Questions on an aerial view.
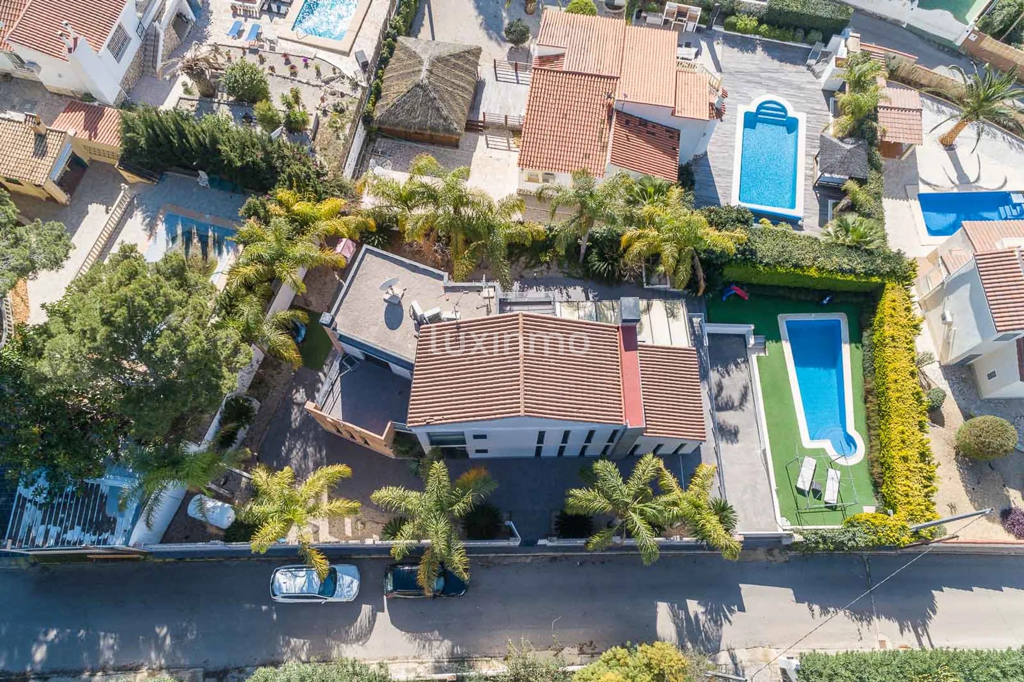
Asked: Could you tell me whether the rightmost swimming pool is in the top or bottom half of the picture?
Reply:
top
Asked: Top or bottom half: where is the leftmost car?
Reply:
bottom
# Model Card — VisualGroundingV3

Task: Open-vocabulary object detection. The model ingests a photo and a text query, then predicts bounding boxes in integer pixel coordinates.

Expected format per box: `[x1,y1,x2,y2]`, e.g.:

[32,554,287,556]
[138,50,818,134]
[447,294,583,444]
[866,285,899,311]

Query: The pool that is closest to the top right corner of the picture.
[910,185,1024,242]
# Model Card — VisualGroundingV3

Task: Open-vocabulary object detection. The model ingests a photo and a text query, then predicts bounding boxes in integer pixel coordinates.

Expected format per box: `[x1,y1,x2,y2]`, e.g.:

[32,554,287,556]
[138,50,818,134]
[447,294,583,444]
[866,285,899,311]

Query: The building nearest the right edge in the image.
[911,219,1024,398]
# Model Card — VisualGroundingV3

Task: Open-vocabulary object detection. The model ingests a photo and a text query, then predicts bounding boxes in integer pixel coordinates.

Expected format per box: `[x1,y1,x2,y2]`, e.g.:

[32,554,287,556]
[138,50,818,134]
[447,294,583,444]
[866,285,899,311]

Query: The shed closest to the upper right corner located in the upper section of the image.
[867,86,924,163]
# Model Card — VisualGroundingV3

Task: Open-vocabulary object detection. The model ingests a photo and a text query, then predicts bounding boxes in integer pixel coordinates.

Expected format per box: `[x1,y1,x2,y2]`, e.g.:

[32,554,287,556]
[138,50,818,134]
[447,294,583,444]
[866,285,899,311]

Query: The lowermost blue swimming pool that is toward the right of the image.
[779,314,864,464]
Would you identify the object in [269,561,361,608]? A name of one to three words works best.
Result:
car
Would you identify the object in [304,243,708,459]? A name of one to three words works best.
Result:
house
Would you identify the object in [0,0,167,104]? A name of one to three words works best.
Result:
house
